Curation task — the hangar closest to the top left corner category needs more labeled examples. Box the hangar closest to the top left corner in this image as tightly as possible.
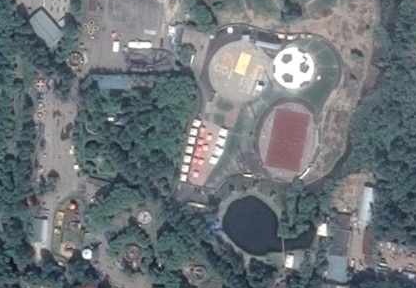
[28,6,63,44]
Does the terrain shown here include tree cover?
Yes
